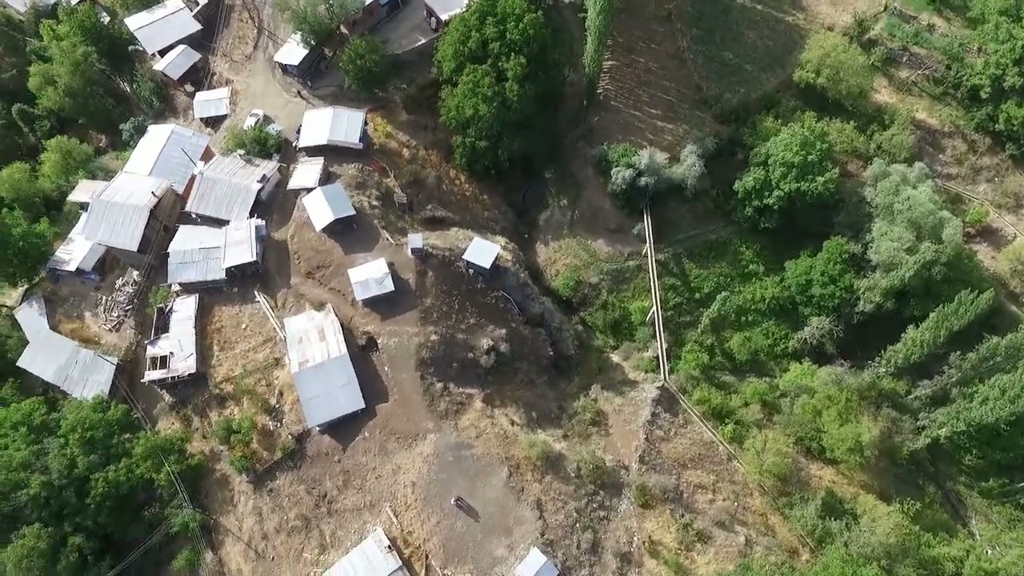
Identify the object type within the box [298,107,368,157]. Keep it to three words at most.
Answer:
house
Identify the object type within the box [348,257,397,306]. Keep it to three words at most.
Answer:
shed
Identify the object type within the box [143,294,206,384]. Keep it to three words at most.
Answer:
barn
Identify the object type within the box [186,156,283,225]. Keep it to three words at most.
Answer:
house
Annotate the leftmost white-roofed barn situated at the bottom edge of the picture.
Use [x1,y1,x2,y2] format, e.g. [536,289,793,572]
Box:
[310,527,410,576]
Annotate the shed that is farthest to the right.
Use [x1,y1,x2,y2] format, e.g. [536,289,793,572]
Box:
[514,547,559,576]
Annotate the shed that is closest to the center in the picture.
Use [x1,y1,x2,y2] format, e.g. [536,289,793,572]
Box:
[462,237,500,281]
